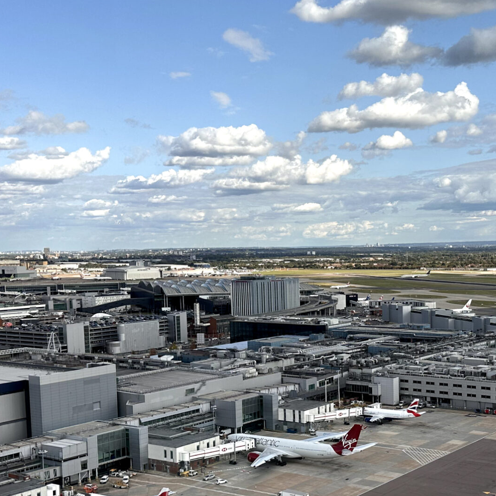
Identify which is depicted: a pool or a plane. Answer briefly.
plane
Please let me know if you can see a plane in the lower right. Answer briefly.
Yes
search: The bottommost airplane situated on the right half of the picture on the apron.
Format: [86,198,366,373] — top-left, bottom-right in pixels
[219,419,379,466]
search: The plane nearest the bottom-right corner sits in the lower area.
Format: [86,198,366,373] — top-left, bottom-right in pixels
[368,399,426,424]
